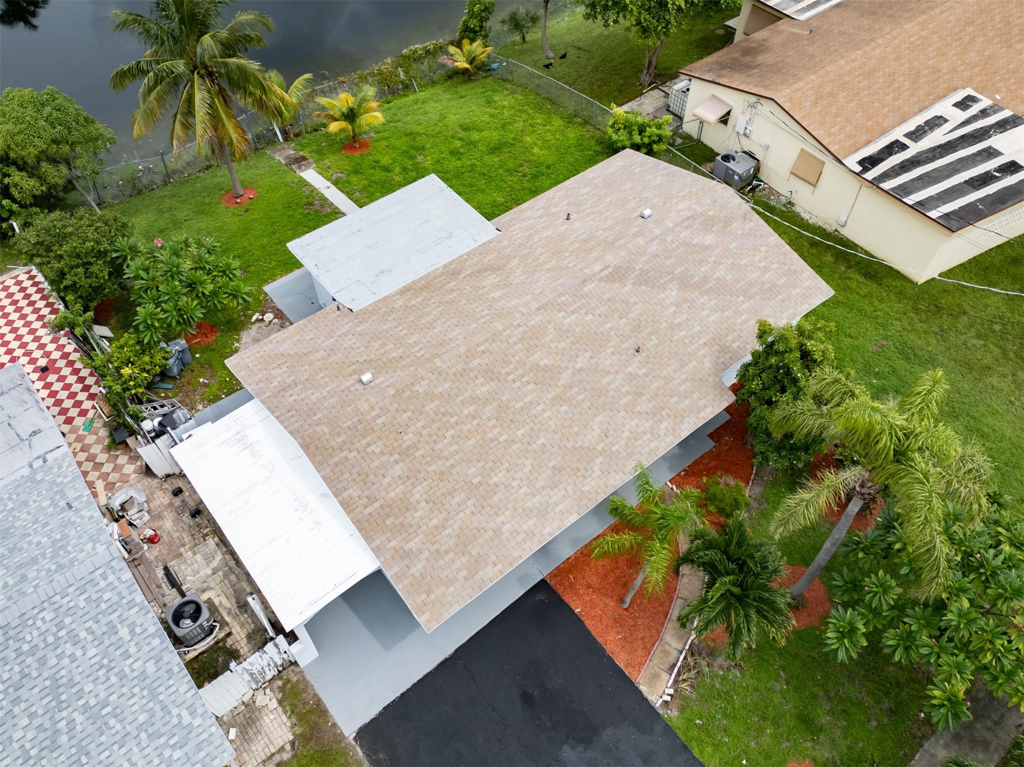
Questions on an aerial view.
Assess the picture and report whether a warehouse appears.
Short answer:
No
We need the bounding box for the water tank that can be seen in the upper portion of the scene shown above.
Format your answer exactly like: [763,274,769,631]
[667,81,690,119]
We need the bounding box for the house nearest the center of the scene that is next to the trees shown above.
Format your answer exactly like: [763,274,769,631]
[168,148,839,665]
